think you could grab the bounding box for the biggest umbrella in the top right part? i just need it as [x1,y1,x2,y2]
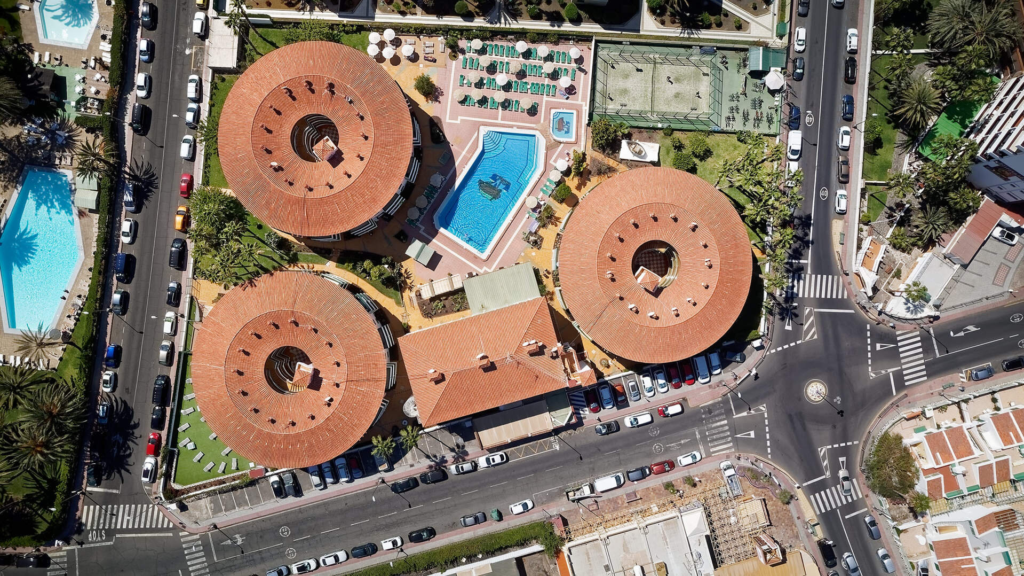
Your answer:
[763,70,785,91]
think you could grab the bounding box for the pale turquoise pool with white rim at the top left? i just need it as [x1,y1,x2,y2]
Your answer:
[36,0,99,50]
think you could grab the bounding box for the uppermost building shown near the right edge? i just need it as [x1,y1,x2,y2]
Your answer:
[947,80,1024,198]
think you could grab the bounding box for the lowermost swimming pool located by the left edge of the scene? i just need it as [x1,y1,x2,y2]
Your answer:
[0,165,83,334]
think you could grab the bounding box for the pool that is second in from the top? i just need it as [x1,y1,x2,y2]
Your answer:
[550,109,577,142]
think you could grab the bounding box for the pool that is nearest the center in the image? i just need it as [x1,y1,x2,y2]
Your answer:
[433,126,546,259]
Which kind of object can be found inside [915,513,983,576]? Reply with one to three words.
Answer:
house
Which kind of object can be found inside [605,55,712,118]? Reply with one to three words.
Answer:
sports court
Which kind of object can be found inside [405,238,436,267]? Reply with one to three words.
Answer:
gazebo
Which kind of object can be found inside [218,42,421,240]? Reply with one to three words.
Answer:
building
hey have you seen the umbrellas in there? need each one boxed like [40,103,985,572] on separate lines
[494,91,506,103]
[515,42,527,53]
[556,159,568,171]
[559,77,571,89]
[369,32,381,44]
[479,56,490,68]
[526,196,538,208]
[570,147,581,158]
[495,74,508,87]
[550,171,561,182]
[382,48,394,59]
[401,45,413,57]
[430,175,442,186]
[520,98,532,110]
[471,89,483,102]
[568,48,580,60]
[367,45,379,57]
[510,62,522,74]
[468,72,480,84]
[763,70,785,91]
[408,207,420,219]
[416,197,427,208]
[543,62,555,74]
[537,46,549,58]
[383,29,395,41]
[454,89,465,101]
[471,39,482,50]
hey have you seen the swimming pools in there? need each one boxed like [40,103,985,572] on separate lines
[433,126,546,259]
[550,109,577,142]
[0,165,83,334]
[36,0,99,50]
